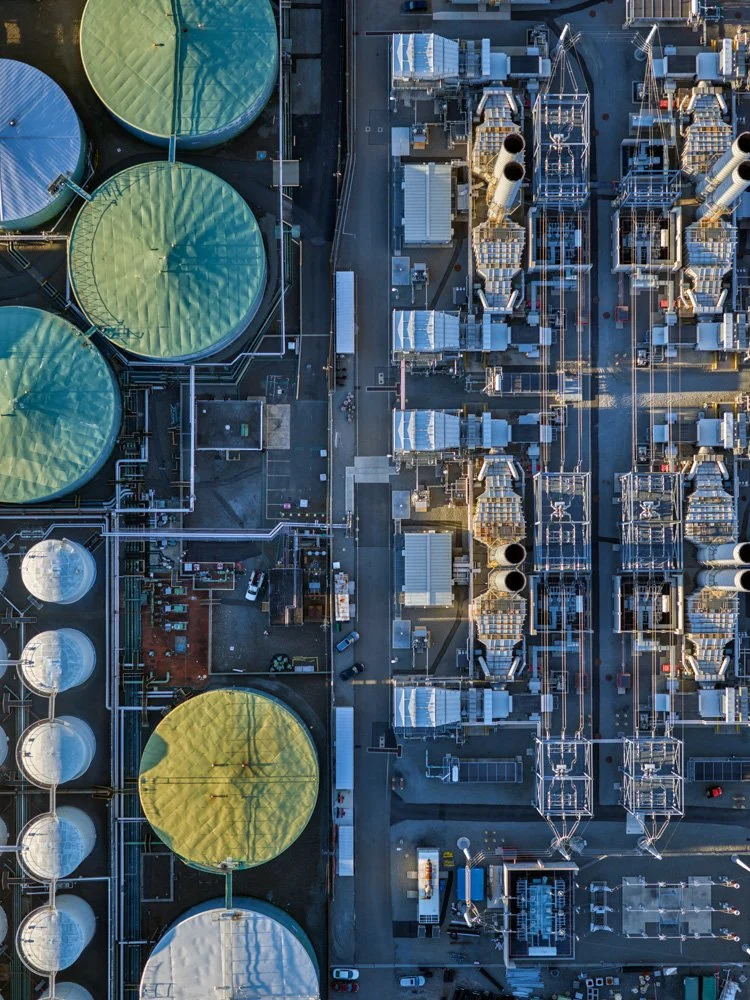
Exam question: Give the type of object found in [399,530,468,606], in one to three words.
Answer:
building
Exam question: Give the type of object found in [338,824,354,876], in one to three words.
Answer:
trailer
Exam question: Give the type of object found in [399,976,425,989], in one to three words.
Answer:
vehicle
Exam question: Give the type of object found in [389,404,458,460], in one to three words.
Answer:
house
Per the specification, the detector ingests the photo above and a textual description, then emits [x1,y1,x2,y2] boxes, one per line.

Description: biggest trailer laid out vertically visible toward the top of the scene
[335,271,354,356]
